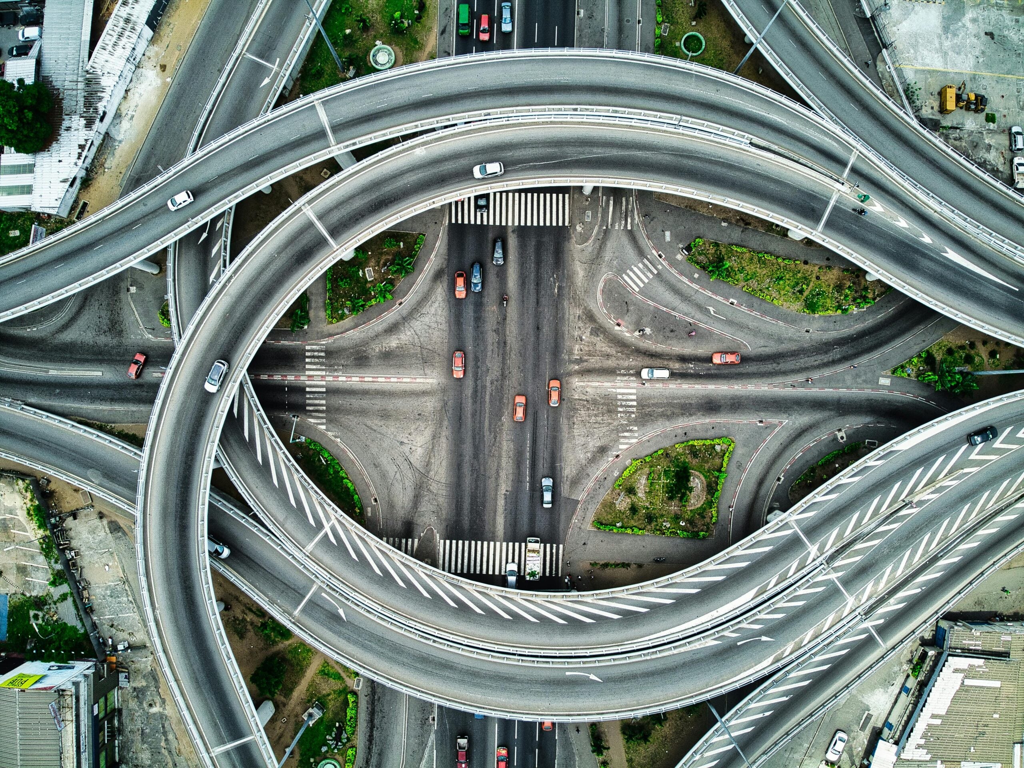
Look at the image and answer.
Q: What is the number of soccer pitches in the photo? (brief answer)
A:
0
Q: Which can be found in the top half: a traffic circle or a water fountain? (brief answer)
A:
water fountain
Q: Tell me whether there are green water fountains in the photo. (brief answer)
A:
Yes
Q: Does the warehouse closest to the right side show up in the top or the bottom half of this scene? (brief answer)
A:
bottom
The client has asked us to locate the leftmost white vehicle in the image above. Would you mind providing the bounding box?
[17,25,43,42]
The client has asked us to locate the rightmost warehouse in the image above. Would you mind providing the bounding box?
[886,615,1024,768]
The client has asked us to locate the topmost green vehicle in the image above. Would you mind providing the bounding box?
[457,1,470,36]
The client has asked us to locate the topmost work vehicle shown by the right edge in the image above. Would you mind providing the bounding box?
[959,78,989,116]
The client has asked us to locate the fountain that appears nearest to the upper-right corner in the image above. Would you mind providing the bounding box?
[681,30,707,56]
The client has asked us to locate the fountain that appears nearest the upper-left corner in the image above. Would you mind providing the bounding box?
[369,42,395,69]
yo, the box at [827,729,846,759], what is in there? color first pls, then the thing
white car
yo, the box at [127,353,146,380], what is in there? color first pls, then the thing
red car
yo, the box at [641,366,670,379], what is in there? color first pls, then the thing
white vehicle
